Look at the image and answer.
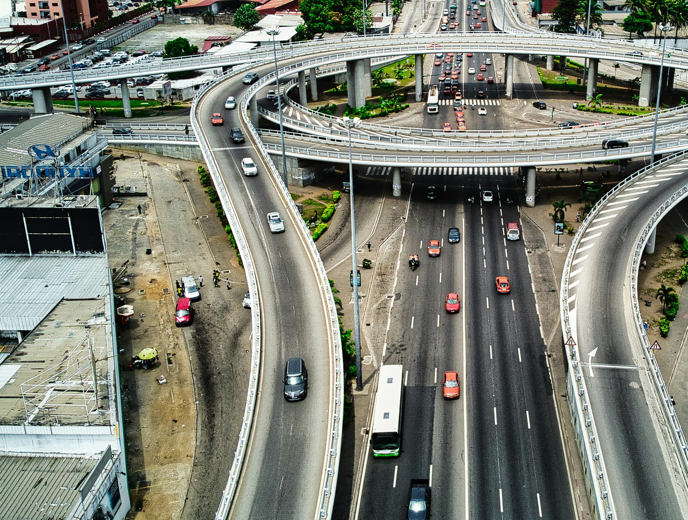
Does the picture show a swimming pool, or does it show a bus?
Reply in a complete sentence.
It is a bus that can be seen here.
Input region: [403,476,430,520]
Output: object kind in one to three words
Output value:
truck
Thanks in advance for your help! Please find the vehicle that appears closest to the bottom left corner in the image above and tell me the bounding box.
[169,300,195,329]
